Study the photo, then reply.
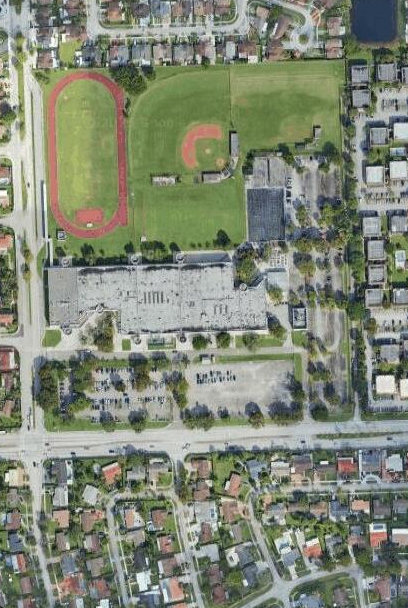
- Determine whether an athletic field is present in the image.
Yes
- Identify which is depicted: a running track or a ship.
running track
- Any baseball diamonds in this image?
Yes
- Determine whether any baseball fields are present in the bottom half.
No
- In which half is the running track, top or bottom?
top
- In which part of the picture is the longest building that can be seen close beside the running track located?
center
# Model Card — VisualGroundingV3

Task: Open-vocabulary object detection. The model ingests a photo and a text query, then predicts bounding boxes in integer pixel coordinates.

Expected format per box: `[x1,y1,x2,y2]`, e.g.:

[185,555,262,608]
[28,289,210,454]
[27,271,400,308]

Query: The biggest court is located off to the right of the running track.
[247,187,286,242]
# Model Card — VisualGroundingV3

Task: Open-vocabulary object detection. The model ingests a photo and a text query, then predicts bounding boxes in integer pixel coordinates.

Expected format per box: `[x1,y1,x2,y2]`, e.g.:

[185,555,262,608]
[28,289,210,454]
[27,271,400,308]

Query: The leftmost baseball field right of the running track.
[132,69,242,186]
